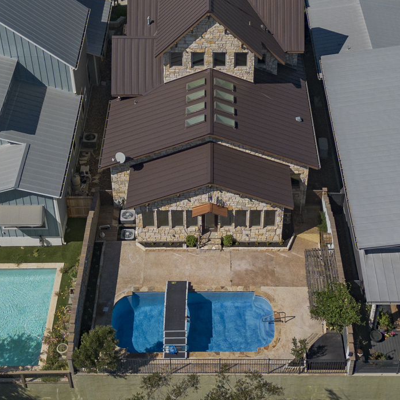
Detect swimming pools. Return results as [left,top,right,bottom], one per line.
[0,265,61,371]
[104,284,284,361]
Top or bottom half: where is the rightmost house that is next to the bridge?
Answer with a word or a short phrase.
top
